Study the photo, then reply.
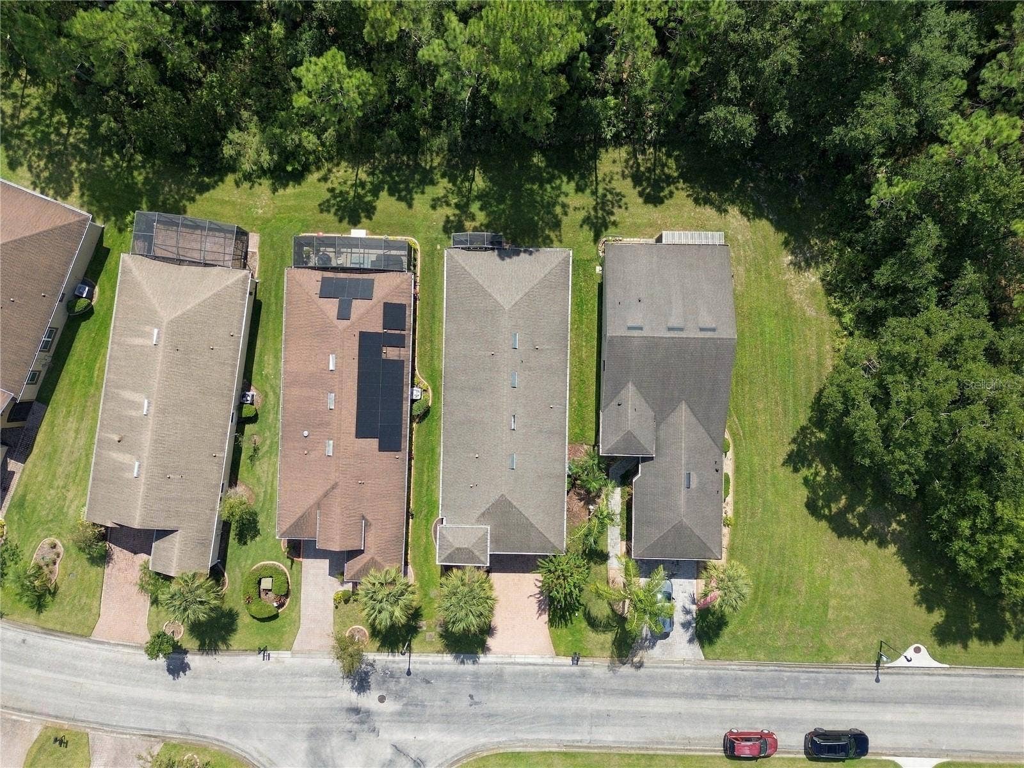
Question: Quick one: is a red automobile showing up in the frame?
Yes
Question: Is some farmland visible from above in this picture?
No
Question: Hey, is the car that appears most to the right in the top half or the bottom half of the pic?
bottom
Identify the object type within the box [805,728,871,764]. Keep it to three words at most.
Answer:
car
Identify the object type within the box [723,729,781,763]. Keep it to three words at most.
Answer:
car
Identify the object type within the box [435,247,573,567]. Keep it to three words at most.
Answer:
house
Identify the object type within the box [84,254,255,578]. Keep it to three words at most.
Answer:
house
